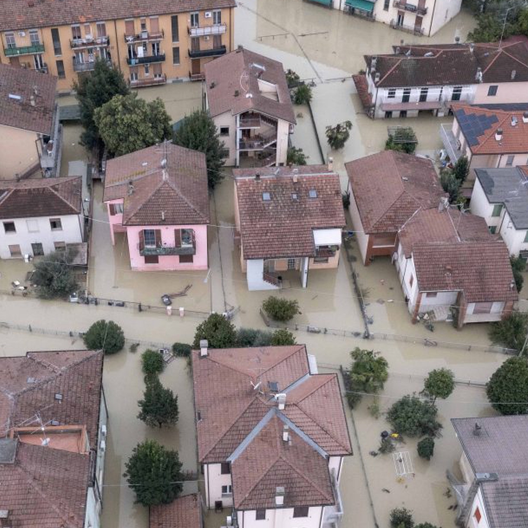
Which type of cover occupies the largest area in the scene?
buildings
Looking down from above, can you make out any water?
Yes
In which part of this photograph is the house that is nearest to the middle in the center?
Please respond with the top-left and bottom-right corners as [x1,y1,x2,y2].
[232,153,347,292]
